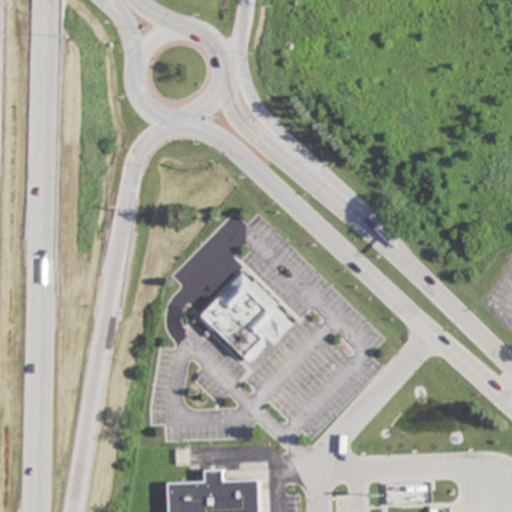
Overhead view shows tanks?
No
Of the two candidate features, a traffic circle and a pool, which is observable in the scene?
traffic circle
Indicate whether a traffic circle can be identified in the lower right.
No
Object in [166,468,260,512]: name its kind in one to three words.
building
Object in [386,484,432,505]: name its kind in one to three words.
building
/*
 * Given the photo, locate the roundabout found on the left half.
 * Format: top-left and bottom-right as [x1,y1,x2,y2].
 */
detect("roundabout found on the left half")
[124,20,236,128]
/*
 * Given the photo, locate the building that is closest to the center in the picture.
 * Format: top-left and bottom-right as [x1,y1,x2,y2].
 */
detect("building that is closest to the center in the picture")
[200,272,293,362]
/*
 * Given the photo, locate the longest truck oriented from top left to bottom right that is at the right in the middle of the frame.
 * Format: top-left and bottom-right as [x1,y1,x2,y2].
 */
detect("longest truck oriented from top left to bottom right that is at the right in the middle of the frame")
[370,226,392,250]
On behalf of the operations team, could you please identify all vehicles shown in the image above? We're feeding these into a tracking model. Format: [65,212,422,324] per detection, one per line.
[370,226,392,250]
[34,186,40,198]
[347,262,360,274]
[424,274,436,286]
[488,378,502,390]
[26,466,32,476]
[278,264,292,278]
[338,433,346,460]
[438,334,450,346]
[211,56,218,69]
[28,362,34,374]
[190,34,202,43]
[40,250,48,286]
